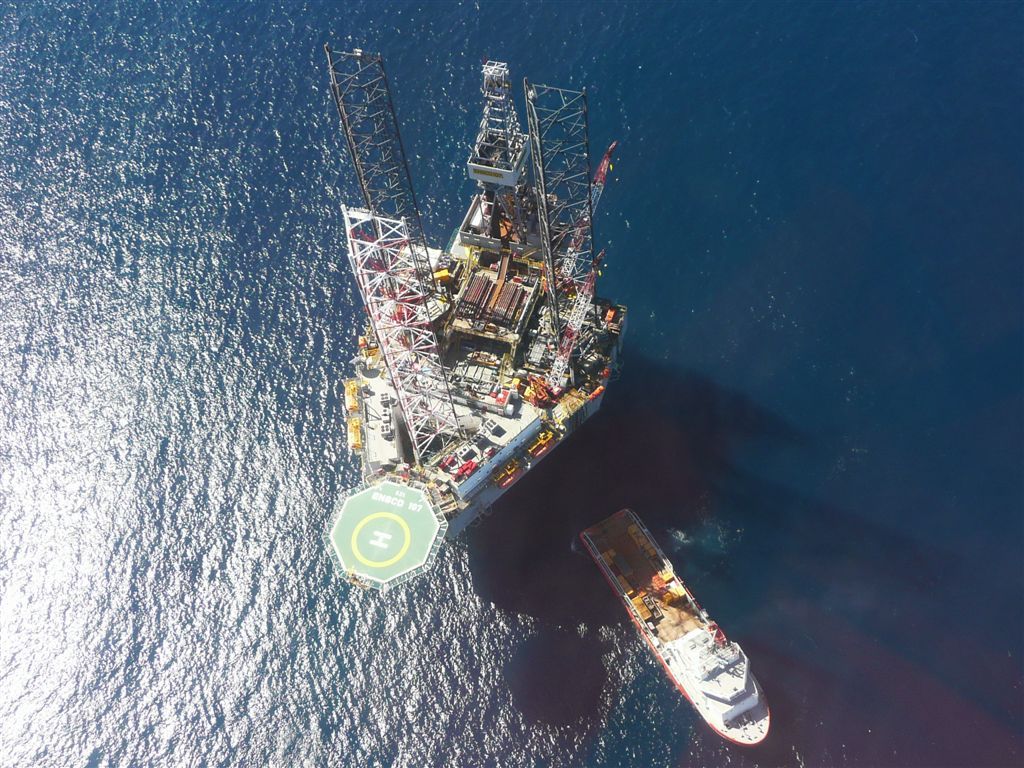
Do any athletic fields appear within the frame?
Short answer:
No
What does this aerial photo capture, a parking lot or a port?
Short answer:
port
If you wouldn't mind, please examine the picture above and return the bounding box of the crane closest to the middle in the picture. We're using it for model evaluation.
[543,247,606,410]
